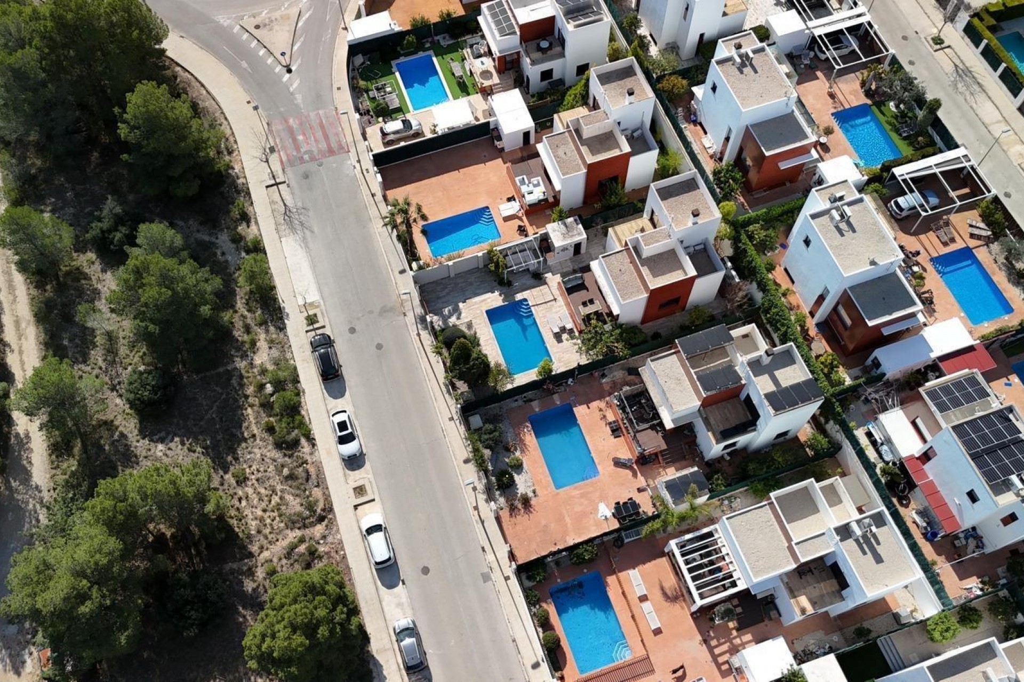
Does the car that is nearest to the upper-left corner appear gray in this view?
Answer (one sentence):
Yes, the car that is nearest to the upper-left corner appears gray.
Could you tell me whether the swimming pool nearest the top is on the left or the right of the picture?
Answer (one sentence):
The swimming pool nearest the top is on the right side of the image.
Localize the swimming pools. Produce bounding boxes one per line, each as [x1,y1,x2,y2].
[831,101,904,167]
[421,204,502,258]
[994,27,1024,75]
[929,244,1015,327]
[527,401,602,491]
[390,47,457,115]
[483,295,556,378]
[548,569,635,677]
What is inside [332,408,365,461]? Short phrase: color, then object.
white car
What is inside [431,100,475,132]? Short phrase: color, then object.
white gazebo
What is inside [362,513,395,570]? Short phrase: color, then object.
white car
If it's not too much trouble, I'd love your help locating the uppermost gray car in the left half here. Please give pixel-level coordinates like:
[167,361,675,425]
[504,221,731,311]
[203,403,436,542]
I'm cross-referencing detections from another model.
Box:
[383,118,425,145]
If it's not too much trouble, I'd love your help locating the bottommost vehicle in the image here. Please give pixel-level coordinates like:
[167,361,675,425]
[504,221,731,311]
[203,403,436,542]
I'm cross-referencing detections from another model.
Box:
[392,615,428,676]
